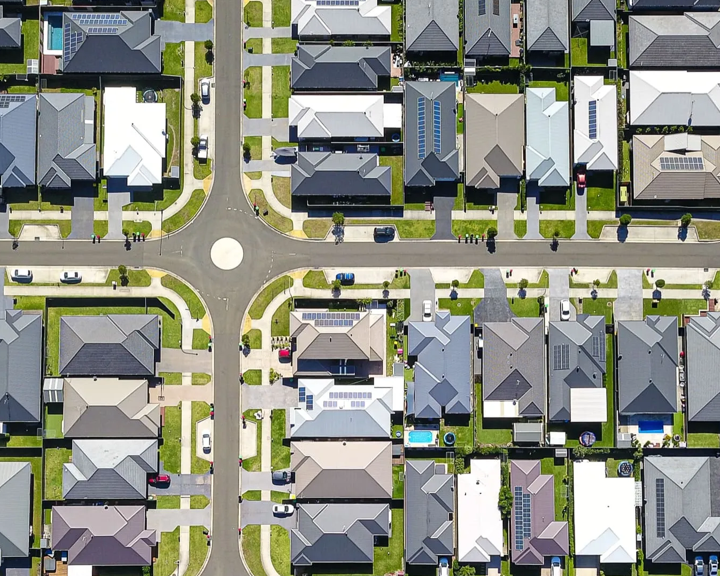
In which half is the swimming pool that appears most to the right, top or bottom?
bottom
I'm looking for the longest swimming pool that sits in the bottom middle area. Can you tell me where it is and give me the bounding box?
[404,429,438,447]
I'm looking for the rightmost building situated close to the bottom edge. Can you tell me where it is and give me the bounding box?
[643,456,720,563]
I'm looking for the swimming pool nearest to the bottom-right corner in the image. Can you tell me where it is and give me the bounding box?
[619,416,674,447]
